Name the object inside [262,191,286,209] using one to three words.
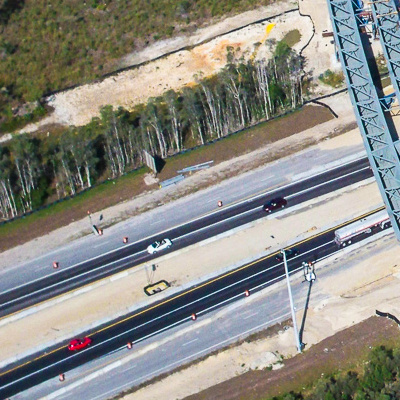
car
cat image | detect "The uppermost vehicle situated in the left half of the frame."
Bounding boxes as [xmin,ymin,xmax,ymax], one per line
[144,236,170,251]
